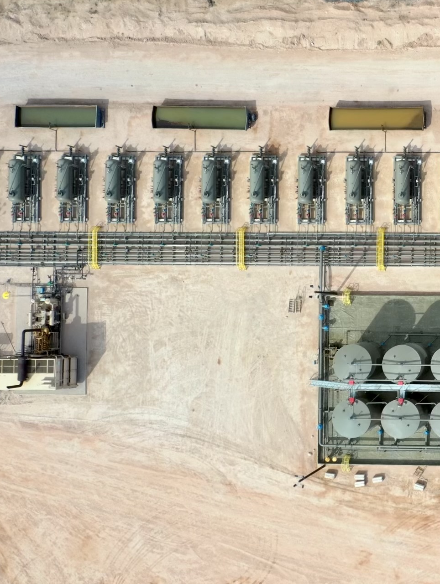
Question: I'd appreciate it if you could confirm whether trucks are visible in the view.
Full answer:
No, there is no truck in the image.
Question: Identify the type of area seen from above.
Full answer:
It's an industrial area.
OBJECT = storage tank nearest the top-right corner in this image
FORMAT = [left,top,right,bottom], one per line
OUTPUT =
[328,106,427,134]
